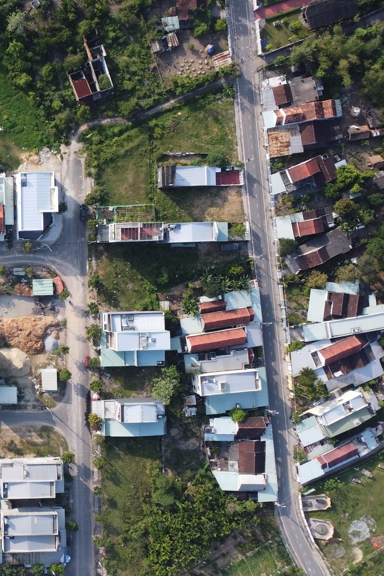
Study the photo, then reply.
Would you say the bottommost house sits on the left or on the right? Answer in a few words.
left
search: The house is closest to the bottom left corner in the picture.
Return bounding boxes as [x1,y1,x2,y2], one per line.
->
[0,500,66,567]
